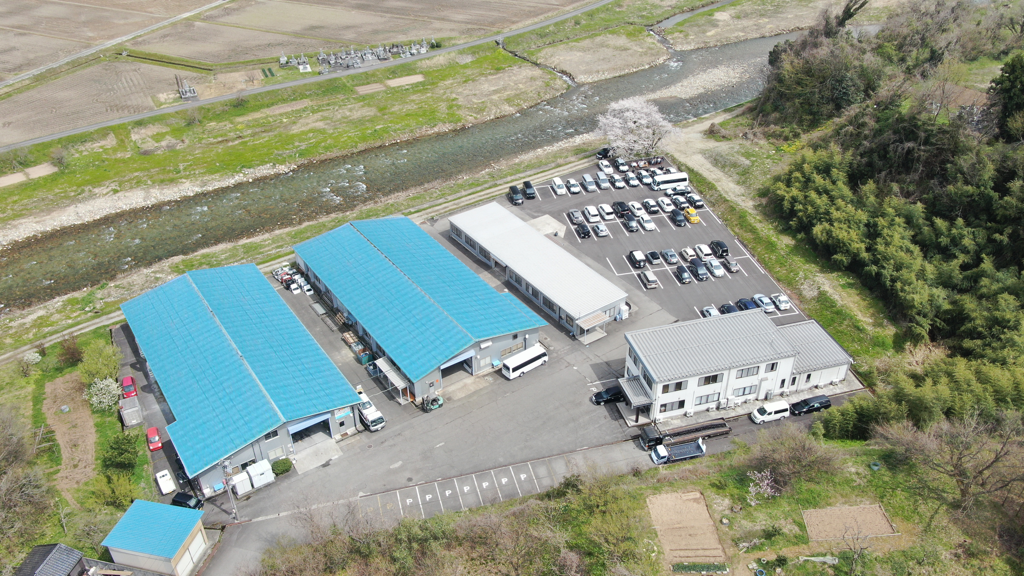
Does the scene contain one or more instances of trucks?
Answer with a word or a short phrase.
Yes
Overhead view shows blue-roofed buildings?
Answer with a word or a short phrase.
Yes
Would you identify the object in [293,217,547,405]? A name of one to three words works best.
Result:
building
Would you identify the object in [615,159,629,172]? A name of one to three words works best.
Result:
vehicle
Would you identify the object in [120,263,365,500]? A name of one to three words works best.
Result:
building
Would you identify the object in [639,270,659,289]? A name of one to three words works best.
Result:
vehicle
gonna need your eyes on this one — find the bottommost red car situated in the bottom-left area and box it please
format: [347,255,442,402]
[145,426,164,454]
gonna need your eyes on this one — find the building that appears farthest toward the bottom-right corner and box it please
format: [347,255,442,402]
[616,306,859,421]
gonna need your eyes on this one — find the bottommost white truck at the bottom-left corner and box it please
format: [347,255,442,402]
[153,467,177,498]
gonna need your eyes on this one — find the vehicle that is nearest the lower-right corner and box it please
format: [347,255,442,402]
[789,395,834,416]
